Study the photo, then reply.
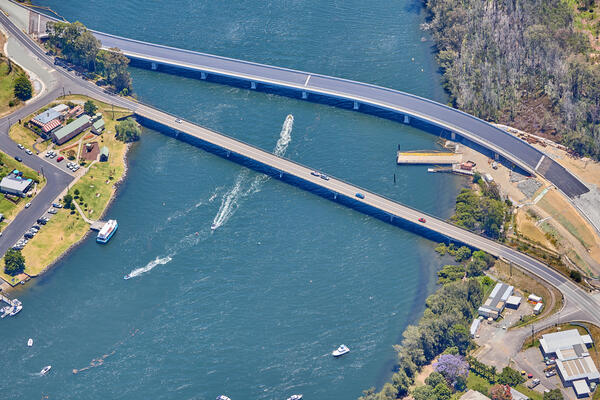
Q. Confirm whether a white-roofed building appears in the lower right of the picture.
Yes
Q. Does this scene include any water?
Yes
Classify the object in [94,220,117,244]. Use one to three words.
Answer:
ship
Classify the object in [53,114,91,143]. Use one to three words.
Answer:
building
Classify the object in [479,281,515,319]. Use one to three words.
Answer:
building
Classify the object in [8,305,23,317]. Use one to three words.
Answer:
boat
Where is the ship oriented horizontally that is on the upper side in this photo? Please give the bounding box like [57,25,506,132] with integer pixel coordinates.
[399,152,462,165]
